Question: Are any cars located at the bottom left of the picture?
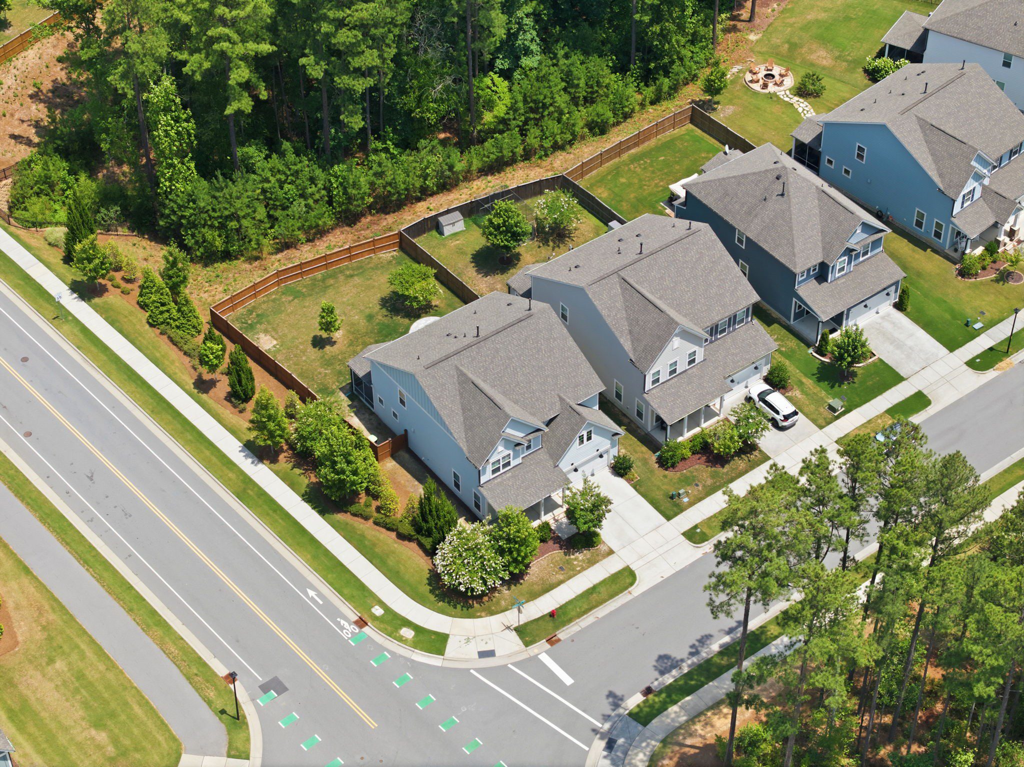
No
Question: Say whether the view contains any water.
No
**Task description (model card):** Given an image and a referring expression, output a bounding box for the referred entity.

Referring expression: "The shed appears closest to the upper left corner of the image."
[441,209,471,242]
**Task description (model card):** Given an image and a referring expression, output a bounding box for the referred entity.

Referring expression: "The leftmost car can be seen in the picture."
[746,389,798,432]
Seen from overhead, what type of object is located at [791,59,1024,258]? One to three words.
house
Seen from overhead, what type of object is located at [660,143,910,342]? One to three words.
house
